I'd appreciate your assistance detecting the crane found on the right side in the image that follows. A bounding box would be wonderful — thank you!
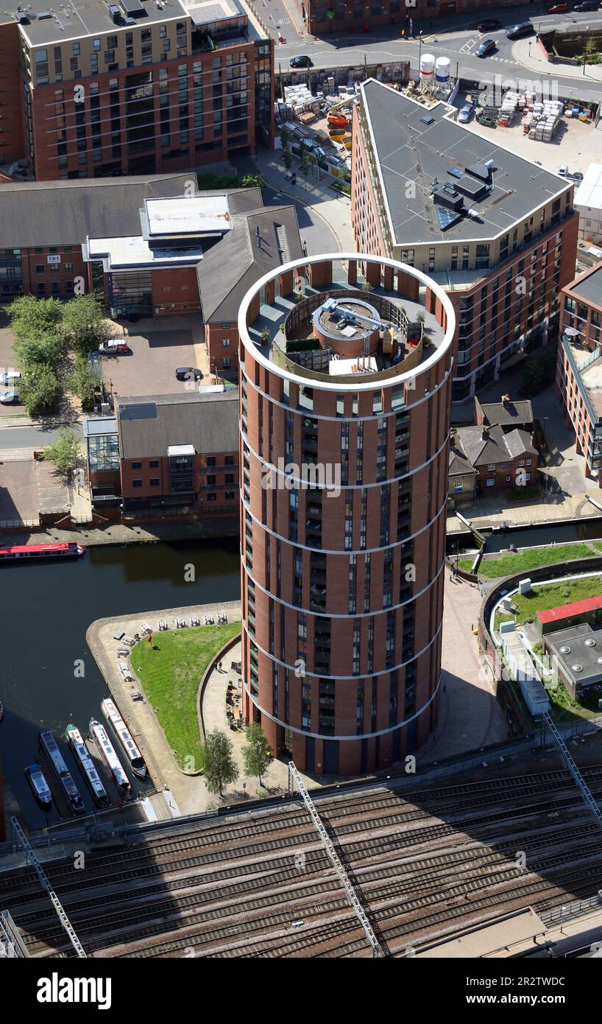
[318,299,408,334]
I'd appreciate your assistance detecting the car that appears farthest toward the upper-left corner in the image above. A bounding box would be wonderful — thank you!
[288,57,313,69]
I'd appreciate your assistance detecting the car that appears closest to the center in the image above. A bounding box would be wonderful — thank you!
[176,368,203,381]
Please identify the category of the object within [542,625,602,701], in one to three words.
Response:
building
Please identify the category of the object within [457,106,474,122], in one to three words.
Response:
car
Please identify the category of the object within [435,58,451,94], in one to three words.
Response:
silo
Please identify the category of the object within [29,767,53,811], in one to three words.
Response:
boat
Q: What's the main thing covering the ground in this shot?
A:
buildings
